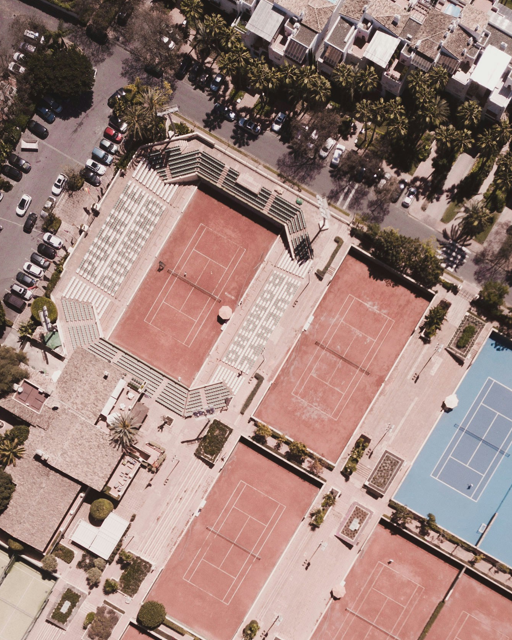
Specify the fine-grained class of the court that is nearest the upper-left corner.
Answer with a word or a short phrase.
tennis court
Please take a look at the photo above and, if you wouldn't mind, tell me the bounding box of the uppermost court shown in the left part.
[108,181,281,389]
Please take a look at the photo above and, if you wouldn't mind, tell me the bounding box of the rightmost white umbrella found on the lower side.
[445,394,458,409]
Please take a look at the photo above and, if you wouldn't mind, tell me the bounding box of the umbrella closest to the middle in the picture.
[219,306,232,319]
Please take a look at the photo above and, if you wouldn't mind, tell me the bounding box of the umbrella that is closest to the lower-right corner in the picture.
[332,585,345,598]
